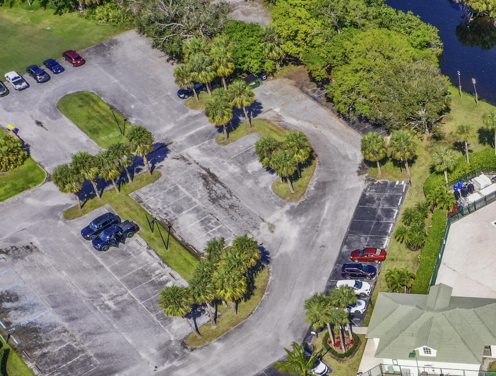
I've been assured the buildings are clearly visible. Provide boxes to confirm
[365,281,496,376]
